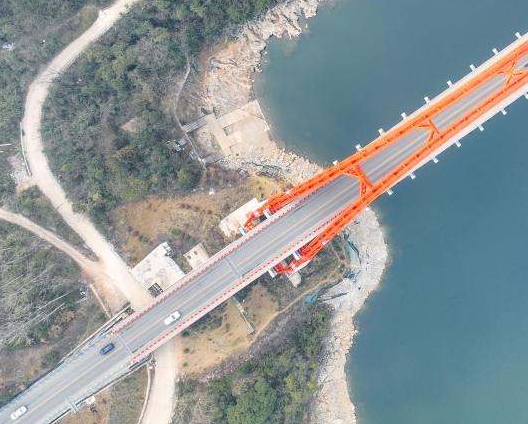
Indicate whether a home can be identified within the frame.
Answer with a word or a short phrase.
Yes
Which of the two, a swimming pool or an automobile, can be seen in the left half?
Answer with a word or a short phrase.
automobile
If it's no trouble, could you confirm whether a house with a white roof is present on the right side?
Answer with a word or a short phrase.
No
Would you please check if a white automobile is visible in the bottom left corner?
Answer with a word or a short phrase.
Yes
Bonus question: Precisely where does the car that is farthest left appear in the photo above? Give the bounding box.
[7,405,27,422]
